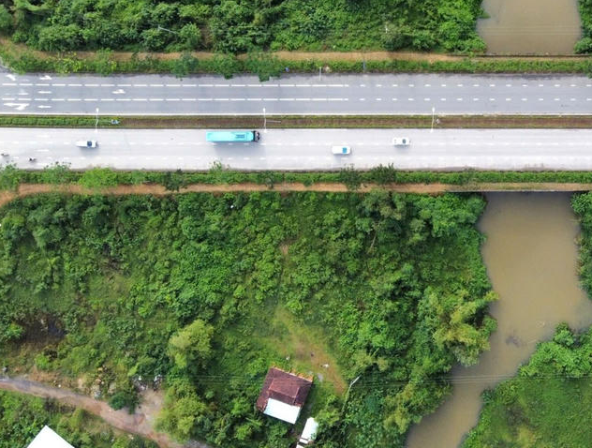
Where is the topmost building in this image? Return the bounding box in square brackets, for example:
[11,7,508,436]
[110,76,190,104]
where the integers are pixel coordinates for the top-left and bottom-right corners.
[259,366,314,421]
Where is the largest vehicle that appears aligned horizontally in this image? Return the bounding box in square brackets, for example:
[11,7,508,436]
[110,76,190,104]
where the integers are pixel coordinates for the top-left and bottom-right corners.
[202,131,262,144]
